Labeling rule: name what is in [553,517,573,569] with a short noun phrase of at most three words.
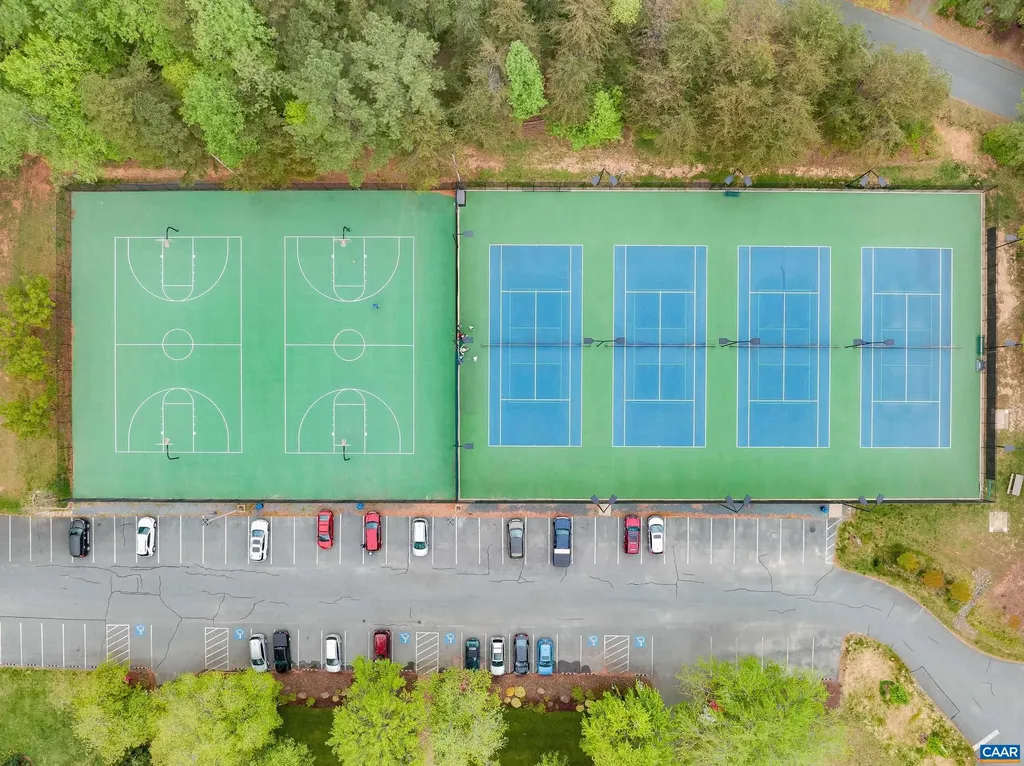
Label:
vehicle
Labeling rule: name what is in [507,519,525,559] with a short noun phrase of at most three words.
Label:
car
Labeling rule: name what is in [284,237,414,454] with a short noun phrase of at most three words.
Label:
basketball court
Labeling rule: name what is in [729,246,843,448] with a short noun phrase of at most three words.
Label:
tennis court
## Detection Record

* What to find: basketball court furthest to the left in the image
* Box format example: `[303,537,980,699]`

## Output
[115,237,242,454]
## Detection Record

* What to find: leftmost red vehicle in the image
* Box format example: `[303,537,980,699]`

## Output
[315,509,333,550]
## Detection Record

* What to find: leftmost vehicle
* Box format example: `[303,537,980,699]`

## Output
[67,518,89,559]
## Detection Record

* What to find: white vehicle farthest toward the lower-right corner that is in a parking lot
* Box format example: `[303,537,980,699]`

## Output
[648,515,667,556]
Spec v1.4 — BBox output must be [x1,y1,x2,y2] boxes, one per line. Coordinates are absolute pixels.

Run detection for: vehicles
[364,511,382,552]
[648,515,667,556]
[624,515,643,556]
[315,509,333,550]
[553,517,573,569]
[135,517,156,558]
[372,633,391,675]
[248,520,269,563]
[67,518,89,559]
[488,636,507,677]
[537,638,555,678]
[512,634,531,676]
[270,630,290,675]
[412,518,428,557]
[507,519,525,559]
[248,633,268,673]
[323,634,342,674]
[463,639,481,678]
